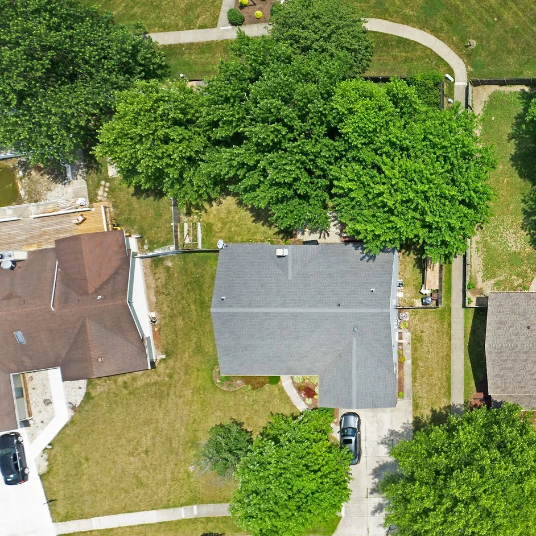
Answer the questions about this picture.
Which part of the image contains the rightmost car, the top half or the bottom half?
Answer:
bottom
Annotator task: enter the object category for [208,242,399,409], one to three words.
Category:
house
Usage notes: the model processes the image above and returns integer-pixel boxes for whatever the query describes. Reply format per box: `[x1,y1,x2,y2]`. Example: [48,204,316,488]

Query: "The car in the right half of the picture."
[337,411,363,467]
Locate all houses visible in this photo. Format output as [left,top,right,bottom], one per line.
[208,242,399,409]
[485,290,536,411]
[0,230,154,432]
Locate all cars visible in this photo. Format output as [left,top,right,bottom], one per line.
[337,411,363,467]
[0,431,23,488]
